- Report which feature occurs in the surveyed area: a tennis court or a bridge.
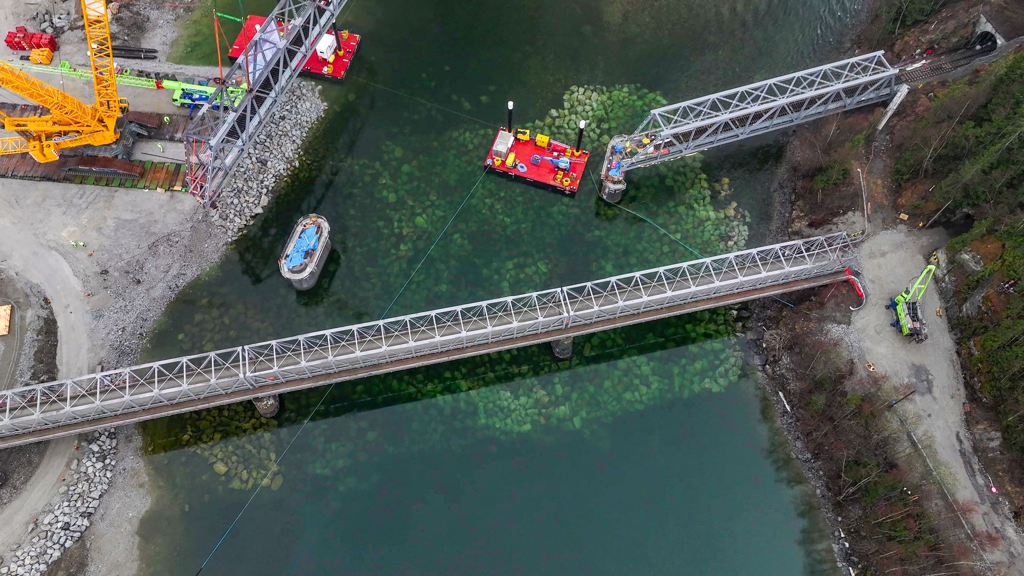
bridge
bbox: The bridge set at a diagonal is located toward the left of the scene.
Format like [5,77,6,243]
[169,0,346,214]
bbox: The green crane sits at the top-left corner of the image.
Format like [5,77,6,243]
[0,60,244,121]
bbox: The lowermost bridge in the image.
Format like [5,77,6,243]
[0,232,857,446]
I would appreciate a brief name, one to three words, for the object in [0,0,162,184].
crane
